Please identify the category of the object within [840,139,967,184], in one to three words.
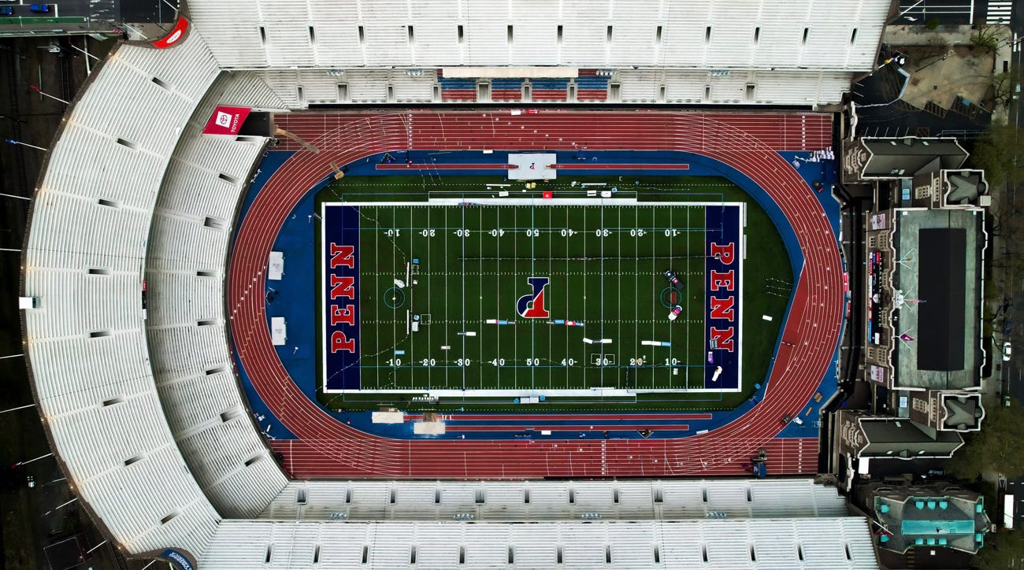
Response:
building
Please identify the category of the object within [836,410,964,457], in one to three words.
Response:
building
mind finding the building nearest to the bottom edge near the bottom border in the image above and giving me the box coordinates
[850,471,991,554]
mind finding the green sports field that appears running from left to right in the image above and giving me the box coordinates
[315,176,793,411]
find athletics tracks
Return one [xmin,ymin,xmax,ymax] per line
[228,111,847,478]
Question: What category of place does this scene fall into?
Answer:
sports ground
